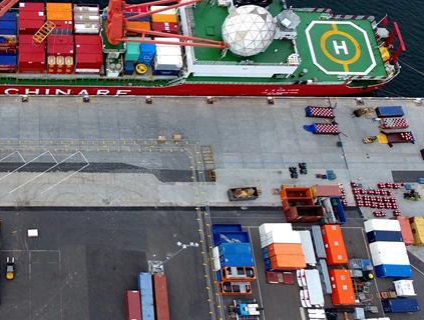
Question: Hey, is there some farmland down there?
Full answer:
No, the picture contains no farmland.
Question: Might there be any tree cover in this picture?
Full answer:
No, there is no tree cover in the image.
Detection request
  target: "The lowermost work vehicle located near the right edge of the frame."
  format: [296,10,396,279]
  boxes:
[402,188,424,200]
